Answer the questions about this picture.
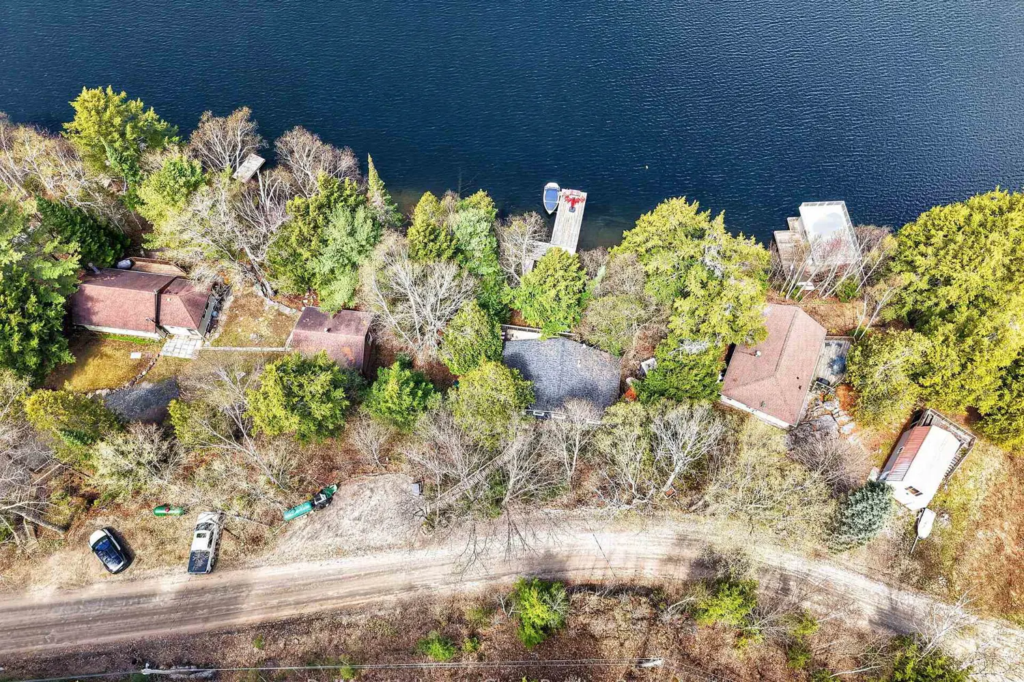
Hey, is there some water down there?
Yes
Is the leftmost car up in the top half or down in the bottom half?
bottom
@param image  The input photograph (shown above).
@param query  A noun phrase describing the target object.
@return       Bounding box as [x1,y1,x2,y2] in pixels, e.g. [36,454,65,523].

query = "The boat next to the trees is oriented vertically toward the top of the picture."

[543,179,561,216]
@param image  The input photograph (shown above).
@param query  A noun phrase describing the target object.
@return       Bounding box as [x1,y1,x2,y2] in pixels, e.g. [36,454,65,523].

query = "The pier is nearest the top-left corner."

[233,154,266,183]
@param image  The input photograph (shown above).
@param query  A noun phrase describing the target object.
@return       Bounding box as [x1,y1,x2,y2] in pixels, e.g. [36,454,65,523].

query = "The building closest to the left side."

[73,268,233,340]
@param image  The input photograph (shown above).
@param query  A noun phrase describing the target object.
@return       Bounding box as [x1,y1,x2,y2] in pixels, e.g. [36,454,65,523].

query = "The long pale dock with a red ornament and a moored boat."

[552,189,586,254]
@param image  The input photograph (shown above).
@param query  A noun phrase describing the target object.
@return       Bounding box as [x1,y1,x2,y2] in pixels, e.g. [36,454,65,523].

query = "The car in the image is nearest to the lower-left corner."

[91,529,131,580]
